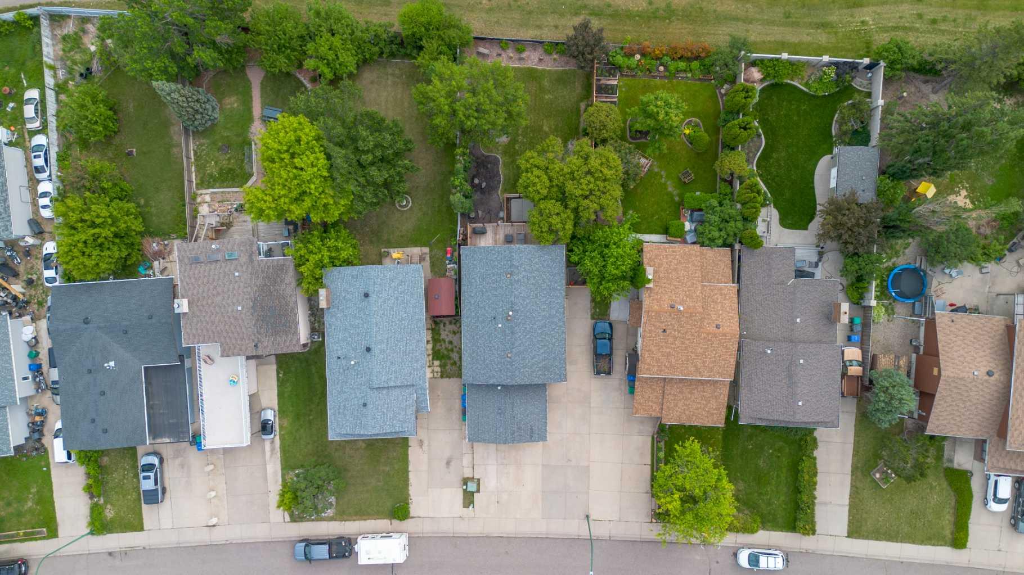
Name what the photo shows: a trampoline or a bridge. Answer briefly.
trampoline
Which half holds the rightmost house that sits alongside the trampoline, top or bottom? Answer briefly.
bottom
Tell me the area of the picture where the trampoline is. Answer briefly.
right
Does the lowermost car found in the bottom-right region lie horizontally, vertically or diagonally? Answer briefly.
horizontally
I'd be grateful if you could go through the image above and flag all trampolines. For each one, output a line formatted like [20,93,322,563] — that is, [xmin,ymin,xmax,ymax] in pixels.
[887,264,931,302]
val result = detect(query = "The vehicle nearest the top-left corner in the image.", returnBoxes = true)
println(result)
[19,88,46,132]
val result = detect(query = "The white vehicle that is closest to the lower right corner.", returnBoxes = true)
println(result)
[985,474,1013,512]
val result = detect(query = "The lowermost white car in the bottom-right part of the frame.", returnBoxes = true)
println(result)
[735,546,786,572]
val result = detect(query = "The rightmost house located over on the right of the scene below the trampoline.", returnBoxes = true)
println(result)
[915,294,1024,476]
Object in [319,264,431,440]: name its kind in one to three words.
house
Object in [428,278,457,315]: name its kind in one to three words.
shed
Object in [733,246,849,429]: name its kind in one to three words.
house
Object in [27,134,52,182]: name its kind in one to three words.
car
